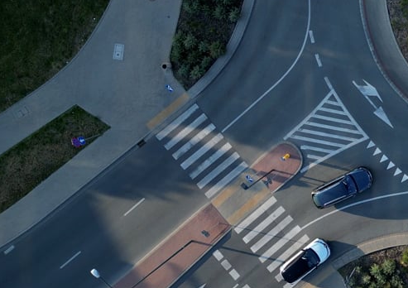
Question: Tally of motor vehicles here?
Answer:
two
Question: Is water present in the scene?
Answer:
No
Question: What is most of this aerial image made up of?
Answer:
paved ground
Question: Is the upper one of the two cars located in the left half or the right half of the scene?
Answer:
right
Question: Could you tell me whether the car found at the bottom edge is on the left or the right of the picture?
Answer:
right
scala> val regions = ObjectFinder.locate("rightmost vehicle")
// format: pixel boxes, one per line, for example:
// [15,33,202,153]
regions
[310,166,376,210]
